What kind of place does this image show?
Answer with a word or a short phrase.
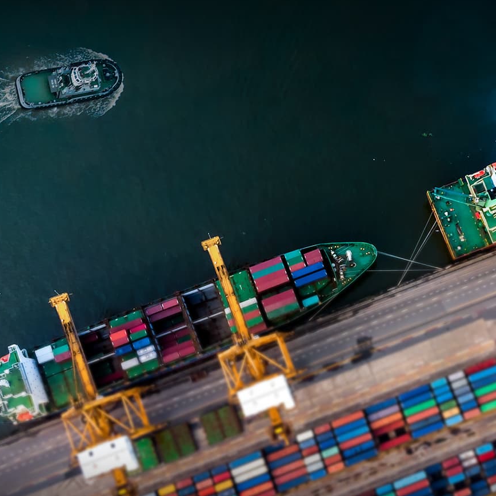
port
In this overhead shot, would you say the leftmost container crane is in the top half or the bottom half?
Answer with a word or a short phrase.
bottom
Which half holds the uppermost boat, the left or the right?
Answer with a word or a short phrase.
left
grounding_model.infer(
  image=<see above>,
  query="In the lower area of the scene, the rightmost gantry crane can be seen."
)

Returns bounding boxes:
[202,234,310,438]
